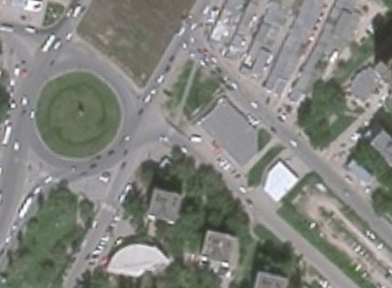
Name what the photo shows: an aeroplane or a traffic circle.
traffic circle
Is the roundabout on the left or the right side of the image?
left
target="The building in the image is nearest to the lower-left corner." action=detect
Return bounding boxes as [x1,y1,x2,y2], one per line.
[107,244,171,278]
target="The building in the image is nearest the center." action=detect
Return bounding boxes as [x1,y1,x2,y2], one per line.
[196,97,260,169]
